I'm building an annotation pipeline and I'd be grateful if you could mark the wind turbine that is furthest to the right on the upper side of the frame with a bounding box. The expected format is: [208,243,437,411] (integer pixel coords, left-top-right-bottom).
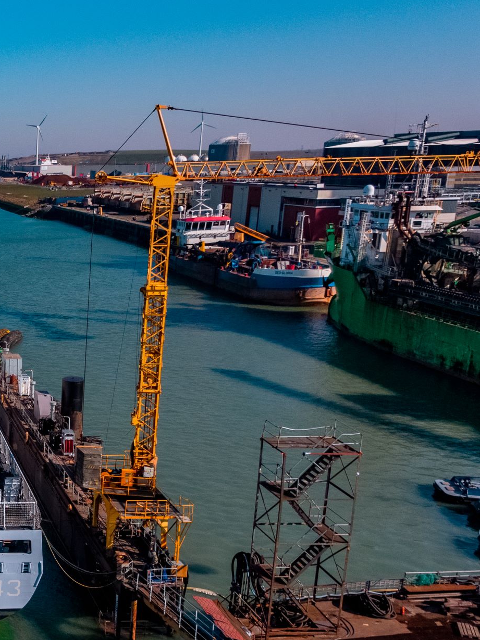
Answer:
[182,99,224,148]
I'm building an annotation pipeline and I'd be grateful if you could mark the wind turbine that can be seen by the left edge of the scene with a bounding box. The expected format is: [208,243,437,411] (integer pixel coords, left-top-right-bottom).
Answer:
[22,108,48,166]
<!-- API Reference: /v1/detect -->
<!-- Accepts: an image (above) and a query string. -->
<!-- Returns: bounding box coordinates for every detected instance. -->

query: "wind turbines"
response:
[22,108,48,166]
[182,99,224,148]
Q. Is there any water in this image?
Yes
